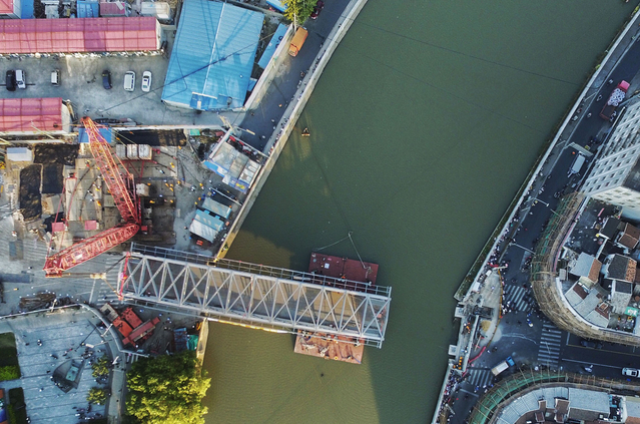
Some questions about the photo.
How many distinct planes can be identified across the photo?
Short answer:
0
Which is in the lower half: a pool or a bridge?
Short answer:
bridge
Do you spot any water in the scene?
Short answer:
Yes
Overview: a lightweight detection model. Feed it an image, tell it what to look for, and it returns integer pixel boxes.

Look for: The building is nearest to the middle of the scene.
[231,157,261,193]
